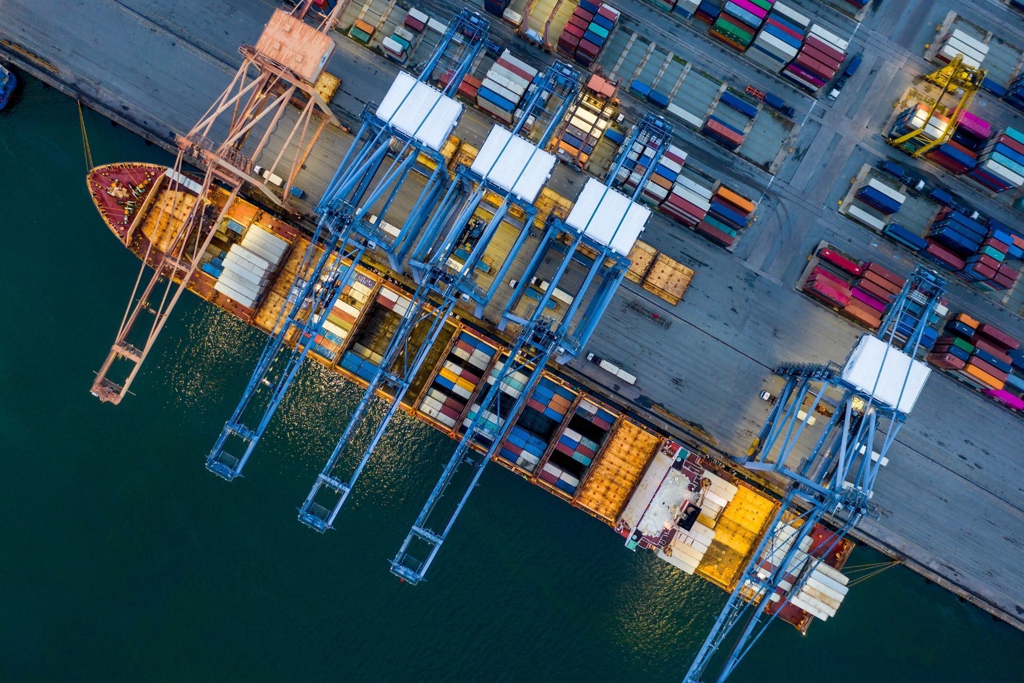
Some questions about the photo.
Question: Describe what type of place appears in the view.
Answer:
port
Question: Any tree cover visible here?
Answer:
No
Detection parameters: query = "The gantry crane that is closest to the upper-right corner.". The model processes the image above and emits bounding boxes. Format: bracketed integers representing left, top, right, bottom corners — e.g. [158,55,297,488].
[885,52,993,160]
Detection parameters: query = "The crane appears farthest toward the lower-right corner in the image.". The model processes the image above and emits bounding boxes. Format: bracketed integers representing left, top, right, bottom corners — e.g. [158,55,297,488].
[680,263,954,683]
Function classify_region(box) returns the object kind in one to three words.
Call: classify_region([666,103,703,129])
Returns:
shipping container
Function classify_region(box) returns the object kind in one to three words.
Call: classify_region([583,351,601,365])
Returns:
vehicle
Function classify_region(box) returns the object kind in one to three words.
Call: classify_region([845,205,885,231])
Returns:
shipping container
